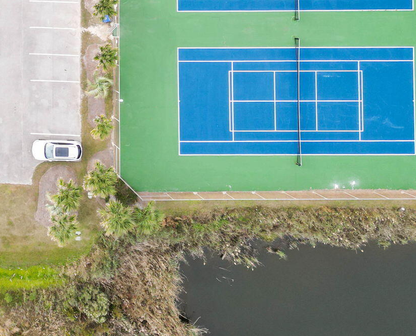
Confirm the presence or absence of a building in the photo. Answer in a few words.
No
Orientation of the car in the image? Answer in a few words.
from left to right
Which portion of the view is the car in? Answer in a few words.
left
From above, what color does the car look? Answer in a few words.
white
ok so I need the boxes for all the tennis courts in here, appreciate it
[117,29,416,191]
[117,0,416,29]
